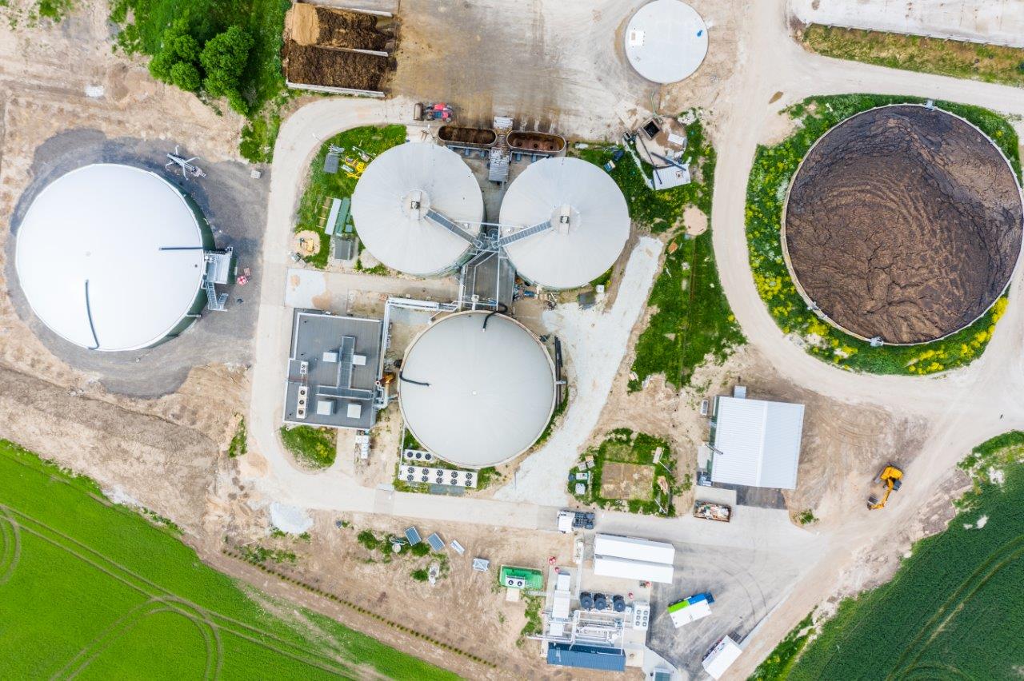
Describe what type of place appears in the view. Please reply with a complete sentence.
It's an industrial area.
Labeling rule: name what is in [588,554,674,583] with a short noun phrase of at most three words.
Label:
trailer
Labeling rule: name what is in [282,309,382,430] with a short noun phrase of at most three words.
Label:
building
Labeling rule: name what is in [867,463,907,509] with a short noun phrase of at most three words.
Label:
work vehicle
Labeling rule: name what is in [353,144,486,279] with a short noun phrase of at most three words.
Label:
storage tank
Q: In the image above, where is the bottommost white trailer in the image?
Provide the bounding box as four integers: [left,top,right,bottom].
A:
[700,627,743,681]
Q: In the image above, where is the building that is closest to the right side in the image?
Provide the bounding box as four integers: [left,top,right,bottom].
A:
[704,386,806,489]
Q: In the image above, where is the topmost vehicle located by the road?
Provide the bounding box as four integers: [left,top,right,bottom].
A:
[412,103,456,123]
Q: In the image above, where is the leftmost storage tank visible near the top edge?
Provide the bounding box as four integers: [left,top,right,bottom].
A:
[623,0,708,85]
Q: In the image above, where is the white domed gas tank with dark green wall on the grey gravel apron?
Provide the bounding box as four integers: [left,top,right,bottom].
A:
[15,162,214,352]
